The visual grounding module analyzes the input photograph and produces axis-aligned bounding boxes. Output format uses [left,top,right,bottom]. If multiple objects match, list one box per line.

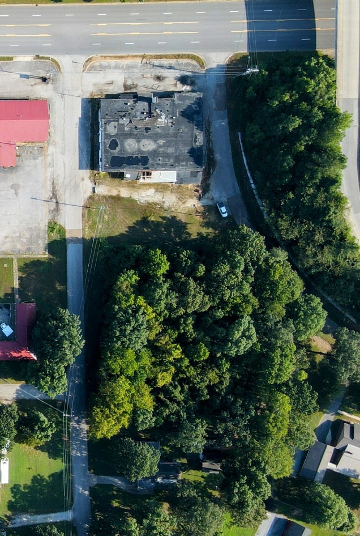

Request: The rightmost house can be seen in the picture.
[328,423,360,478]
